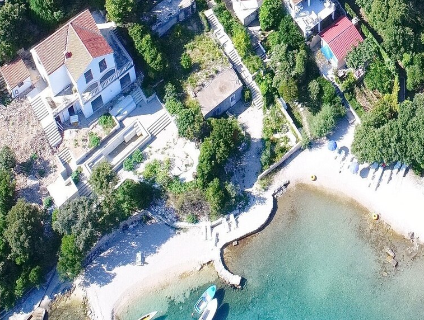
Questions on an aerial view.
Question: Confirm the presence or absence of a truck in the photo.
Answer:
No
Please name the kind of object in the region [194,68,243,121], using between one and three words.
shed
